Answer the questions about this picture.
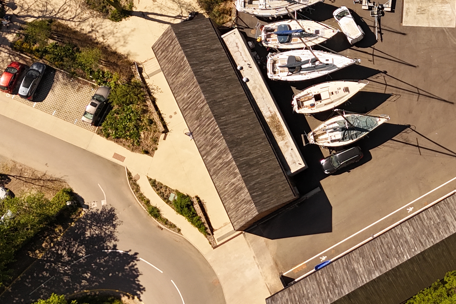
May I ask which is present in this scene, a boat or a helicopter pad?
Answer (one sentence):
Of the two, only a boat appears.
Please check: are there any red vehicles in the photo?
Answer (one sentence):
Yes, there's a red vehicle down there.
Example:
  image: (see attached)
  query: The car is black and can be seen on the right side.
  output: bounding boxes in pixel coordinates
[320,144,365,177]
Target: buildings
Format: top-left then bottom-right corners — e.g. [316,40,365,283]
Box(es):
[152,18,310,231]
[265,190,456,304]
